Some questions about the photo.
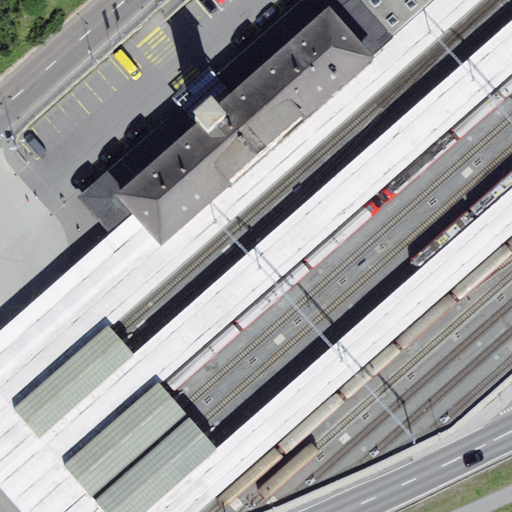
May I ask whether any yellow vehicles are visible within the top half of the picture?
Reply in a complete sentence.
Yes, I can see a yellow vehicle within the top half of the picture.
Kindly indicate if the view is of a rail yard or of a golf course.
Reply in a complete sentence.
The area seen from above is a rail yard.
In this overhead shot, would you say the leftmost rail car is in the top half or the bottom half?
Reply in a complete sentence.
The bottom half of the photo is where the leftmost rail car is.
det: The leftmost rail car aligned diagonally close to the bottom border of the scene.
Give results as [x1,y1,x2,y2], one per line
[216,444,282,505]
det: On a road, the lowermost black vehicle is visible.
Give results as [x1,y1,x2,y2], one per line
[463,452,484,467]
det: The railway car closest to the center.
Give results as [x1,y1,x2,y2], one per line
[236,260,312,329]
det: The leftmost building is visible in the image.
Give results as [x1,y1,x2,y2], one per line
[78,174,134,232]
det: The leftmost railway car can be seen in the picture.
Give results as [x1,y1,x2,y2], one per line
[168,322,242,389]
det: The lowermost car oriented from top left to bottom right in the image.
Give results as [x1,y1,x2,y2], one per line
[25,130,46,157]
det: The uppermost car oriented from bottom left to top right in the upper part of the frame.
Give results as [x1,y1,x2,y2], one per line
[256,5,279,27]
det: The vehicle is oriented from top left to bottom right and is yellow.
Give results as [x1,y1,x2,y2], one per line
[114,50,141,80]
